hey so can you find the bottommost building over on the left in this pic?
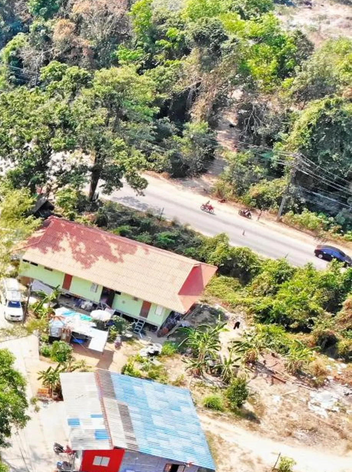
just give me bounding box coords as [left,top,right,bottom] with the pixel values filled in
[57,366,215,472]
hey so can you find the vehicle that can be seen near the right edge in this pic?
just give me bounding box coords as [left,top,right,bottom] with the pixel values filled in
[312,242,352,267]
